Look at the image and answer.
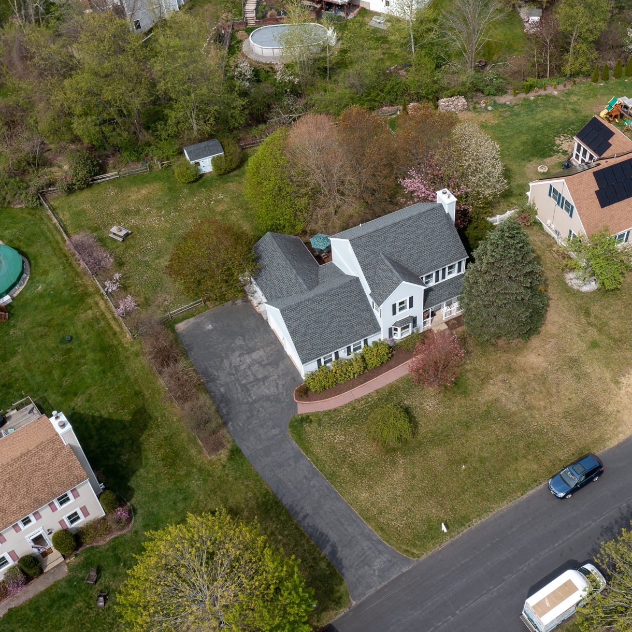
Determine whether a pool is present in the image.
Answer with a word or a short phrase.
Yes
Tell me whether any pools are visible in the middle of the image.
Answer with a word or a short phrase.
No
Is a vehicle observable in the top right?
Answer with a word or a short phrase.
No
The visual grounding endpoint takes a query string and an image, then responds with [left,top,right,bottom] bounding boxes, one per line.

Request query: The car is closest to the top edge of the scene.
[547,451,607,498]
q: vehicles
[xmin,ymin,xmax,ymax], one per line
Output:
[547,451,607,498]
[516,563,609,632]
